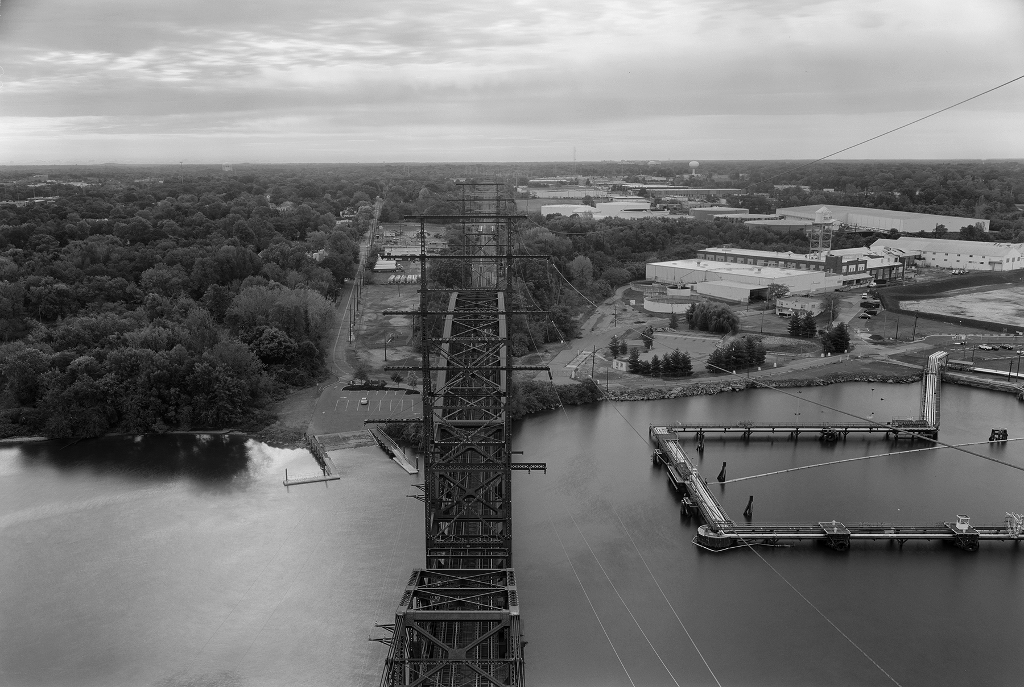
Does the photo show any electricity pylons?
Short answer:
Yes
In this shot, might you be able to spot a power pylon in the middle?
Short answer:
Yes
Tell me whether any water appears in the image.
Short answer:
Yes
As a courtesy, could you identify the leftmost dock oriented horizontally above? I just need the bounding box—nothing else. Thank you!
[284,466,340,488]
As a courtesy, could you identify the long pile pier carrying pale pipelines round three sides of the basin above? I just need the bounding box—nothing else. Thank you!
[649,346,1024,559]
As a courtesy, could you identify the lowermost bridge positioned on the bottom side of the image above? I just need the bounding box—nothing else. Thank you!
[369,564,531,687]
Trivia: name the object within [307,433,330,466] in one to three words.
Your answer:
pier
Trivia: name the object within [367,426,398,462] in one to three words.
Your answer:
pier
